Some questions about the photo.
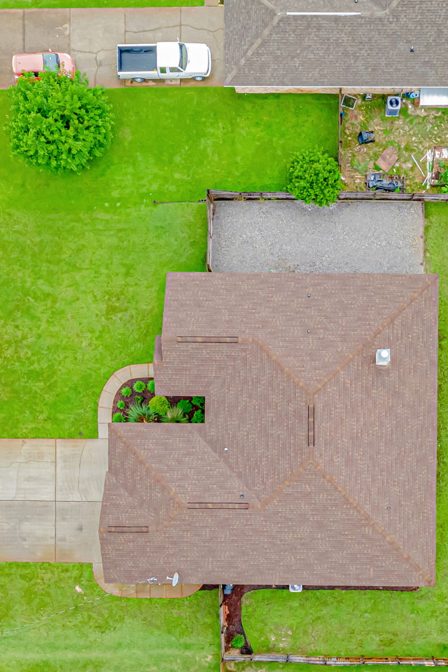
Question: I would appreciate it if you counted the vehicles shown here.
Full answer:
In total, there are 2 vehicles in the scene.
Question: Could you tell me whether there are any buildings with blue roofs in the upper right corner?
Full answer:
No, there's no building with a blue roof to be seen in the upper right corner.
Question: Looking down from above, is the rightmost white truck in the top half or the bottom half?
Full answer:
The rightmost white truck is in the top half of the image.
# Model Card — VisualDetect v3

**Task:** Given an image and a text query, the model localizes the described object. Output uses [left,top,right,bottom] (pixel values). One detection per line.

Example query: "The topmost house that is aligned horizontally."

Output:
[222,0,448,95]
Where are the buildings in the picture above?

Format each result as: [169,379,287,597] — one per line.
[222,0,448,95]
[99,272,439,587]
